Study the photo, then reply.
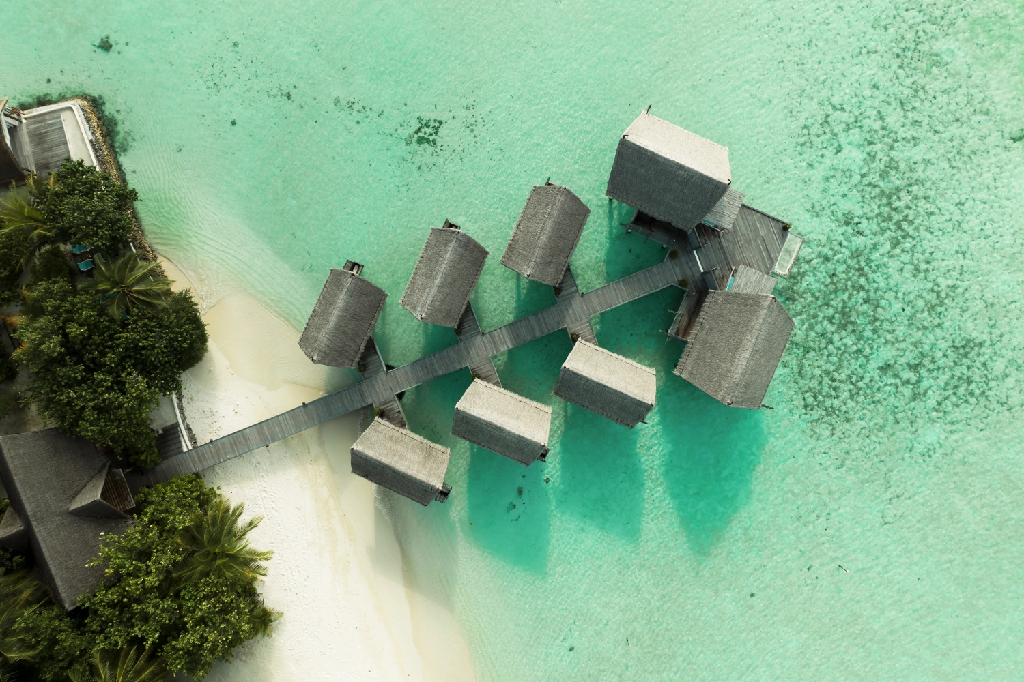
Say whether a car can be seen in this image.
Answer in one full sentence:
No, the photo shows no car.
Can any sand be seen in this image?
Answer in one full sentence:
Yes, the picture does contain sand.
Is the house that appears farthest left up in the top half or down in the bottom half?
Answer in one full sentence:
Seen from above, the house that appears farthest left lies in the top half of the view.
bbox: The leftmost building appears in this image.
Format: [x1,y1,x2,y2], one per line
[0,96,49,189]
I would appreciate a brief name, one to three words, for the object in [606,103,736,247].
building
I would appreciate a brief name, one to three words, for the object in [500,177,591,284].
building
